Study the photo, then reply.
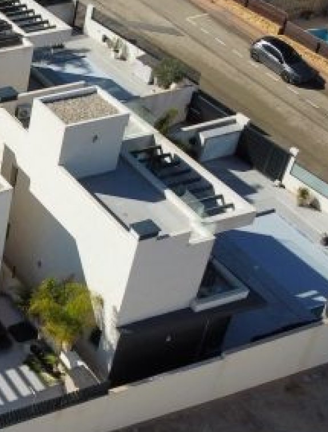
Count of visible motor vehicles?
1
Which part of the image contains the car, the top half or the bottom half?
top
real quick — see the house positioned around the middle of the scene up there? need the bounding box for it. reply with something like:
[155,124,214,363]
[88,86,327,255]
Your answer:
[0,72,260,382]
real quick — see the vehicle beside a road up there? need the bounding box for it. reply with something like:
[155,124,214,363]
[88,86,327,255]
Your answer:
[252,34,317,78]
